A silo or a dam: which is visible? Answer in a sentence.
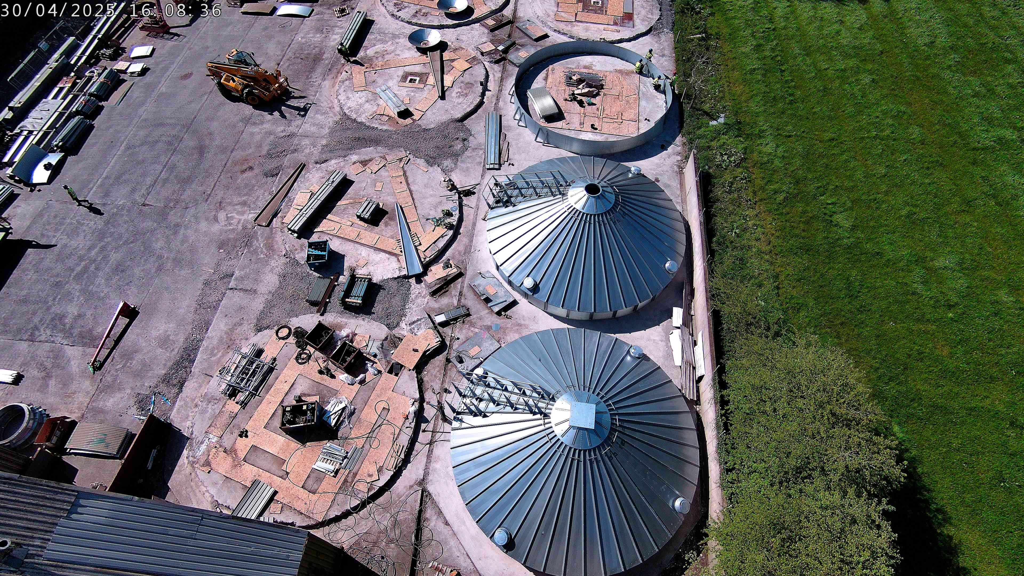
Of the two, only a silo appears.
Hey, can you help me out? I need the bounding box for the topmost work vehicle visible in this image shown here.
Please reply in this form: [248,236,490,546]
[201,47,304,111]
